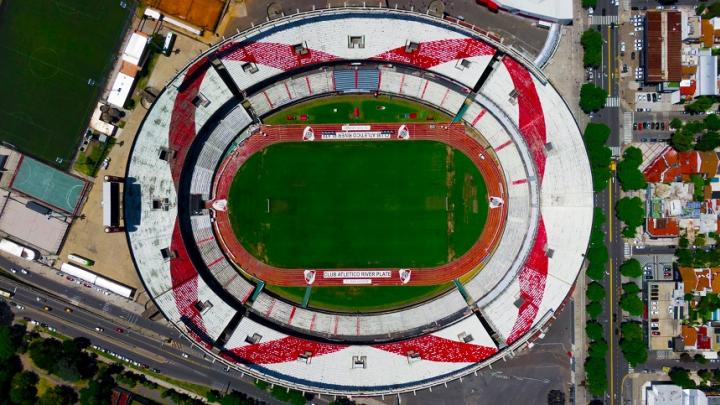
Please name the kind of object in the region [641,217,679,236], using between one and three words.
house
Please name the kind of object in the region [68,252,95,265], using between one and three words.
vehicle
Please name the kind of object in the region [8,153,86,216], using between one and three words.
sports court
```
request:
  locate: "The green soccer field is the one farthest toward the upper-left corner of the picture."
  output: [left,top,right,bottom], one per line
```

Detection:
[0,0,141,171]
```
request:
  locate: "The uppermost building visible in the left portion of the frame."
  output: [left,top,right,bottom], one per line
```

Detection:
[122,33,151,66]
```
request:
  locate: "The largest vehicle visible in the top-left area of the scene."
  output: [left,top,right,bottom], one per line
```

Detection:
[162,32,176,55]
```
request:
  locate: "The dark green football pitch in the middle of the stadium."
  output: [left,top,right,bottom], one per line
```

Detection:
[229,140,487,269]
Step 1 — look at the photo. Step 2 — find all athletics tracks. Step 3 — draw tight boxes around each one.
[214,122,504,286]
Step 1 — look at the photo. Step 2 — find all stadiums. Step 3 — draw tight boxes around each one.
[125,3,594,401]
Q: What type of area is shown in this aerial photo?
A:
sports ground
